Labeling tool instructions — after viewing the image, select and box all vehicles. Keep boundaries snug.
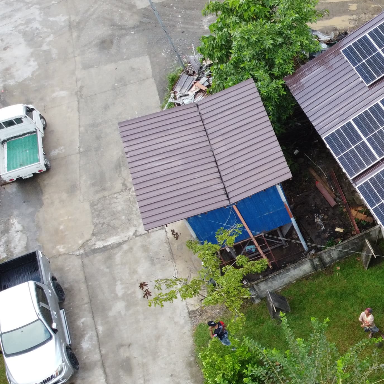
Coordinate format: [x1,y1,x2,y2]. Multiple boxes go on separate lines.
[0,250,84,384]
[0,100,54,184]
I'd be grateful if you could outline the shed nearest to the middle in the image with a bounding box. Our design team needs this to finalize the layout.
[118,82,310,278]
